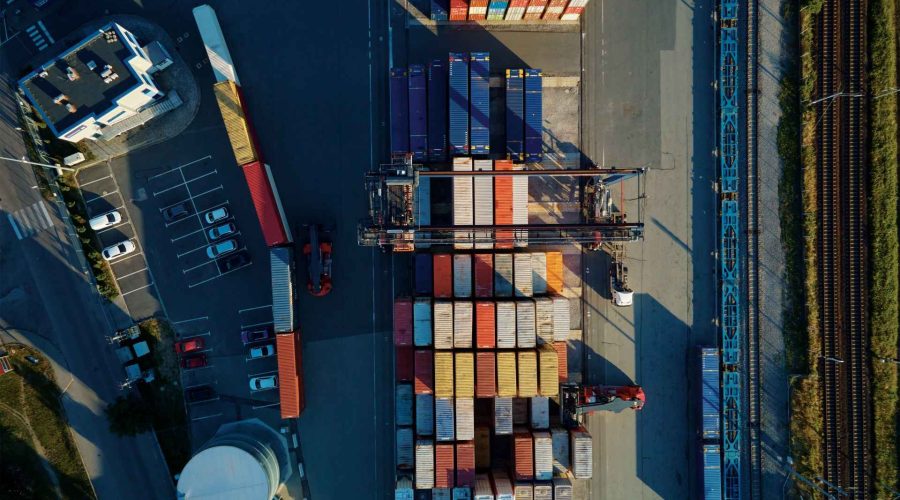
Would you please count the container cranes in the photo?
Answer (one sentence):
There is 1 container crane in the image.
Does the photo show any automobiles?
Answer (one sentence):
Yes, looking at the shot, I can spot an automobile.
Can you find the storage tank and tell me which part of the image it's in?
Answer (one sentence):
You can find the storage tank in the bottom left area of the picture.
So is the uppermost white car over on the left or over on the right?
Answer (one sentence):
The uppermost white car is on the left side of the image.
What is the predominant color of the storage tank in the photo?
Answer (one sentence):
The color of the storage tank is blue.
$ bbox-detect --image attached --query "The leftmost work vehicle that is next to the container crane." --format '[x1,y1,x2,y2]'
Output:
[294,221,338,295]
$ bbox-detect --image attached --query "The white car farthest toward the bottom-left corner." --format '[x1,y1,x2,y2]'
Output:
[103,240,138,260]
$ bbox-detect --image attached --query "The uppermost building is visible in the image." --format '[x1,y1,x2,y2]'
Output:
[19,22,182,145]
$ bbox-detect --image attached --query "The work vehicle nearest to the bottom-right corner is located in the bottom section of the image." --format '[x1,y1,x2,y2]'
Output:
[568,380,645,424]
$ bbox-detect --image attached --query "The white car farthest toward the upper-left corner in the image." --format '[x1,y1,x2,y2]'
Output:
[89,211,124,231]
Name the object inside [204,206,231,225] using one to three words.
car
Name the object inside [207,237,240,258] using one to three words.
car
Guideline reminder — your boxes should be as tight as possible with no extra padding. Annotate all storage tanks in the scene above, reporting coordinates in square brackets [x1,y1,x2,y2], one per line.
[172,418,293,500]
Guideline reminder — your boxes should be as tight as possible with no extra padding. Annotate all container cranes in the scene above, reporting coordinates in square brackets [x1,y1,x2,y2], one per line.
[355,150,652,251]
